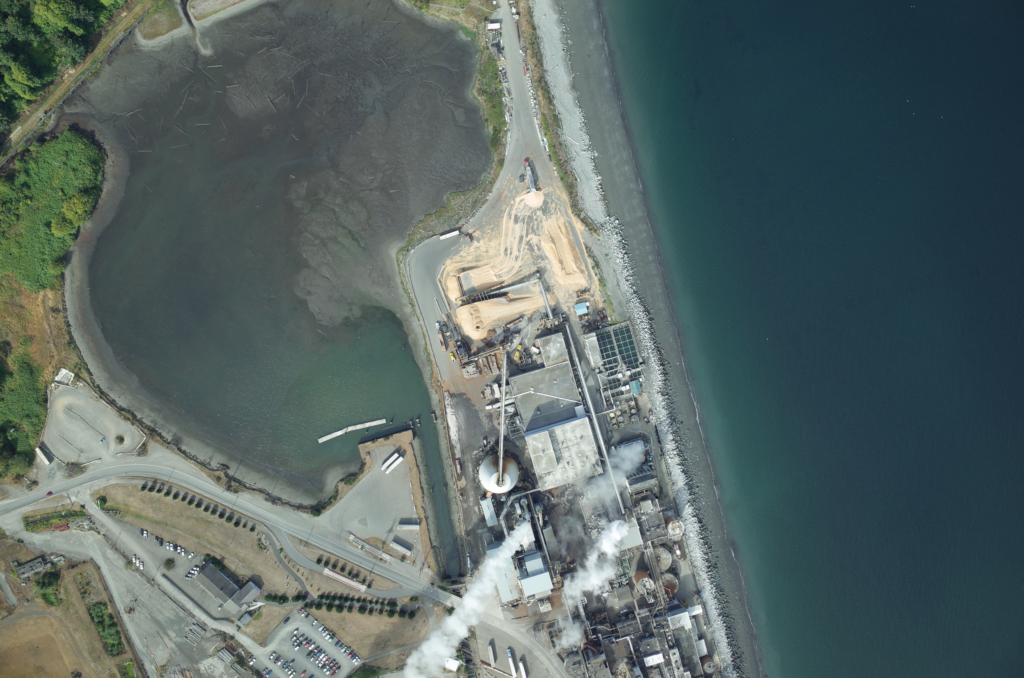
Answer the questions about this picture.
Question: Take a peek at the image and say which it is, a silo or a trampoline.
silo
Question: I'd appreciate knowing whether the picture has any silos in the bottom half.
Yes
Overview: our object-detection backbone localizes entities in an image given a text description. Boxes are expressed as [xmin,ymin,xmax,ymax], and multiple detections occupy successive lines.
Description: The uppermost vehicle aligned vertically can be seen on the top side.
[524,155,538,191]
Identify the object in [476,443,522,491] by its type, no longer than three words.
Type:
silo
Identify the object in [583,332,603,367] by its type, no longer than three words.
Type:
house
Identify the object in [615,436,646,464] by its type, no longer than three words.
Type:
cooling tower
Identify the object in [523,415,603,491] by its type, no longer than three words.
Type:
building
